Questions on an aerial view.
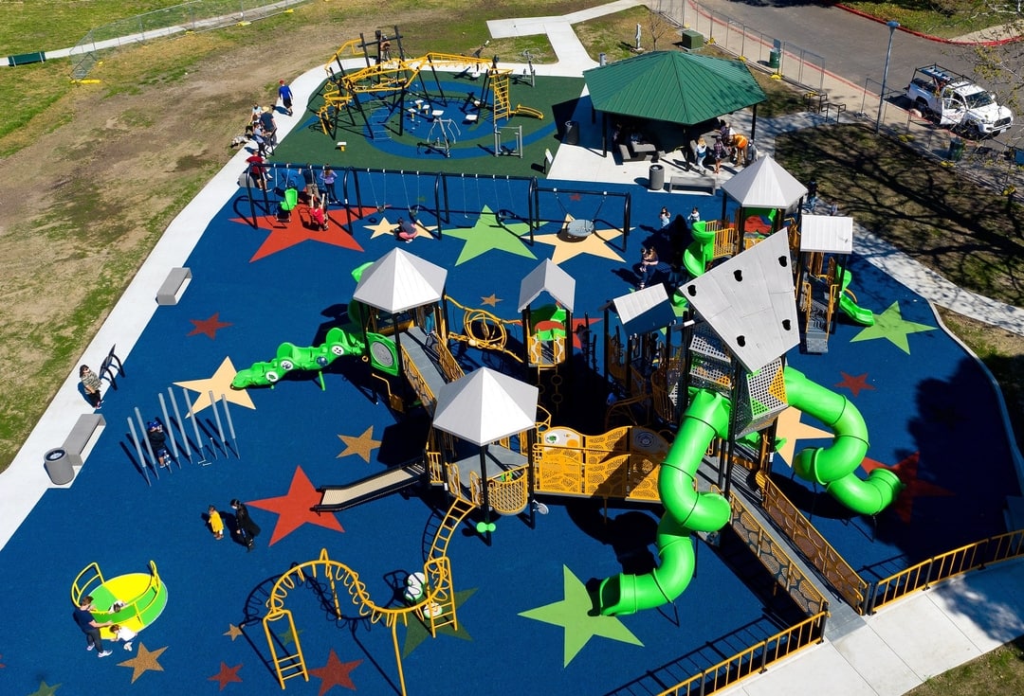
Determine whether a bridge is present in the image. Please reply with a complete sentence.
Yes, you can see a bridge in this photo.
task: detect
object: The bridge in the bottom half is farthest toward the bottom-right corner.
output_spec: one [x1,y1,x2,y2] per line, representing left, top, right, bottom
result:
[535,429,704,537]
